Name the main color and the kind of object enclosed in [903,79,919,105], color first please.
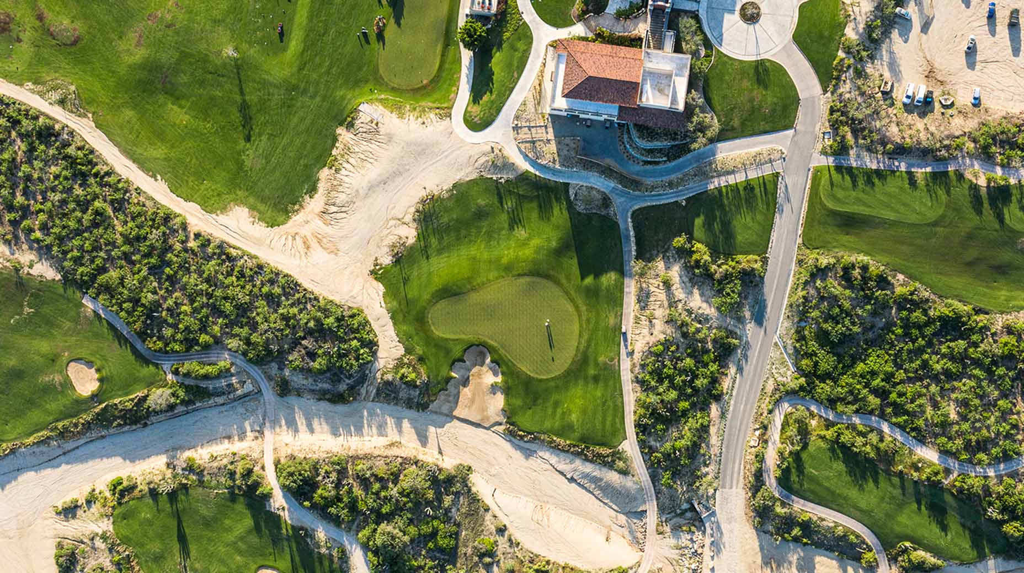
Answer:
white vehicle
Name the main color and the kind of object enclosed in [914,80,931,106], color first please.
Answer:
white vehicle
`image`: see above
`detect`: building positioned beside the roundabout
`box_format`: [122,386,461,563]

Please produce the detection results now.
[540,4,691,129]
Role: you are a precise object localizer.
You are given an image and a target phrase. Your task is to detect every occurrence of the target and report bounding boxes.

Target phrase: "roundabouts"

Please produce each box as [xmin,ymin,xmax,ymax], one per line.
[700,0,800,60]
